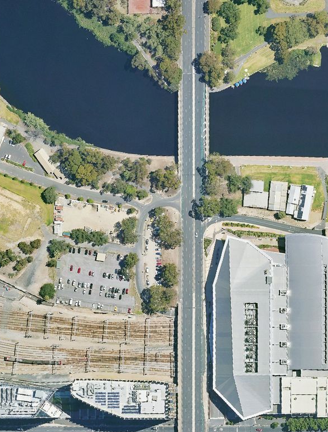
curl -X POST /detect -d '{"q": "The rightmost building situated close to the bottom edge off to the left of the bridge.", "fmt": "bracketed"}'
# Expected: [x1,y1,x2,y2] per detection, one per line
[69,377,177,421]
